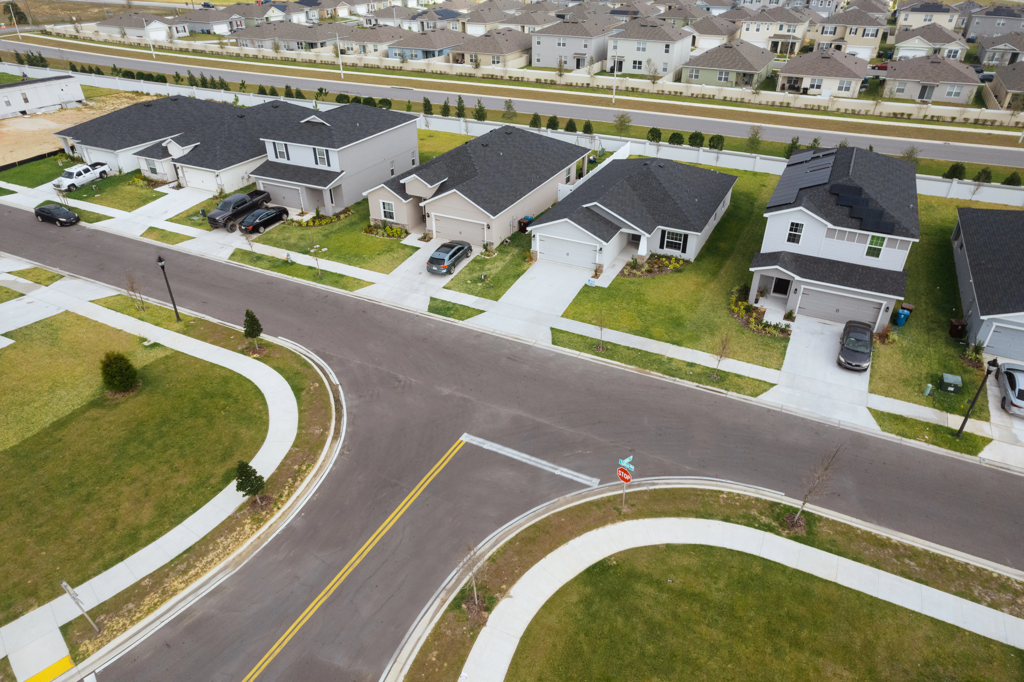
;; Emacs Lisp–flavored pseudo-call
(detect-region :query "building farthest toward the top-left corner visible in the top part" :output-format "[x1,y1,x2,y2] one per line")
[96,12,186,38]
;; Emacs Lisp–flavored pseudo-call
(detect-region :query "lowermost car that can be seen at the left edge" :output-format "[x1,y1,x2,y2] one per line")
[32,204,79,228]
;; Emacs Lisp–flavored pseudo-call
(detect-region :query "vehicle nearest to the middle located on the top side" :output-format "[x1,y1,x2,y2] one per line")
[426,241,473,275]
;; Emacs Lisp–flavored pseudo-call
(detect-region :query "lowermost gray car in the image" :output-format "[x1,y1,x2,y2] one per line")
[995,360,1024,416]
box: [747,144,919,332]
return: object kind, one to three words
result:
house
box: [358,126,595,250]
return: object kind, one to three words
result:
house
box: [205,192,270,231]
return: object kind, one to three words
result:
truck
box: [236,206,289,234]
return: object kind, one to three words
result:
car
